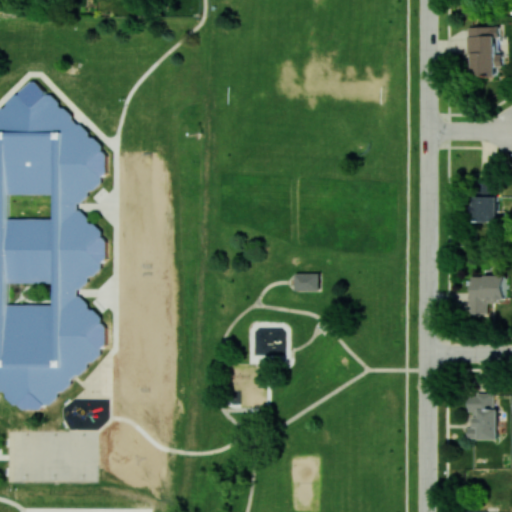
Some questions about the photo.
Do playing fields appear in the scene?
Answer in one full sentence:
Yes, a playing field is visible in the scene.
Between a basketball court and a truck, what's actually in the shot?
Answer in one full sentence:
The one in the frame is a basketball court.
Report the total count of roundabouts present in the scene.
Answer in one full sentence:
There are no roundabouts in this view.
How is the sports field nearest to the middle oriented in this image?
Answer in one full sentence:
The sports field nearest to the middle runs horizontally in the image.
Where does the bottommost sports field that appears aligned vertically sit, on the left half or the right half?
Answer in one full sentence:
The bottommost sports field that appears aligned vertically appears in the left half of the scene.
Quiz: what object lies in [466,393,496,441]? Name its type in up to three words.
house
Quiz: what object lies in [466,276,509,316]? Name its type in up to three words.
house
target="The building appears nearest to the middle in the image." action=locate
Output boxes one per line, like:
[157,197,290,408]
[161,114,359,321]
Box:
[291,274,324,292]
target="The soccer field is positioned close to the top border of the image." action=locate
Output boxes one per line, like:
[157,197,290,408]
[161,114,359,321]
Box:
[218,0,408,175]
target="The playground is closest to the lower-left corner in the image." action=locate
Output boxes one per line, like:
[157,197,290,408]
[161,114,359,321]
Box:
[62,399,110,430]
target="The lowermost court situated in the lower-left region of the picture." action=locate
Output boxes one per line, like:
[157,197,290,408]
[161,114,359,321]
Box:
[8,431,100,482]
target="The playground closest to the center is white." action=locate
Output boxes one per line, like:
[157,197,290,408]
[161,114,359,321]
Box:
[250,321,295,368]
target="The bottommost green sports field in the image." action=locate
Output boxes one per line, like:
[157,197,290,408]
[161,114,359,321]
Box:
[216,170,407,254]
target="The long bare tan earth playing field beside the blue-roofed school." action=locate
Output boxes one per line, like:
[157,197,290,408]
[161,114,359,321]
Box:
[18,146,185,506]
